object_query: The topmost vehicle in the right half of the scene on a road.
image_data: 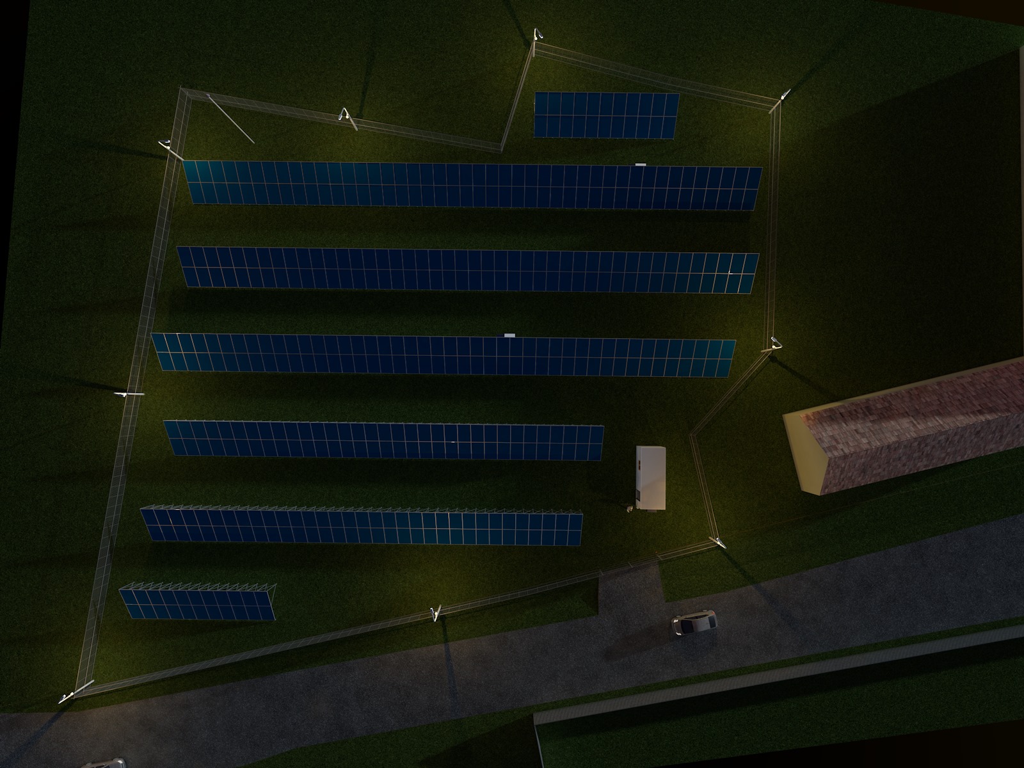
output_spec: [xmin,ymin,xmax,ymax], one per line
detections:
[669,609,718,638]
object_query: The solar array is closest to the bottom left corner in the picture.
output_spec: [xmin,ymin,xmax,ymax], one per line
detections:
[120,582,277,622]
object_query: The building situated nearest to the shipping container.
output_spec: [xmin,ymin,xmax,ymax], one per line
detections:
[782,357,1024,497]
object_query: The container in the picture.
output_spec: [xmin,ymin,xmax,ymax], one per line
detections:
[636,446,666,513]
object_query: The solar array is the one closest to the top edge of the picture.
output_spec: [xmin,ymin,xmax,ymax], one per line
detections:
[534,92,679,138]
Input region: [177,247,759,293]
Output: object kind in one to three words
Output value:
solar array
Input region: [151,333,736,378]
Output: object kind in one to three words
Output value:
solar array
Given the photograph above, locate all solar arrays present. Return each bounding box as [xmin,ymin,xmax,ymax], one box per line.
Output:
[534,92,679,138]
[141,505,582,546]
[184,161,761,210]
[151,333,736,378]
[164,419,603,461]
[120,582,277,622]
[177,247,759,293]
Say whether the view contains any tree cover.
No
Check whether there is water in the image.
No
